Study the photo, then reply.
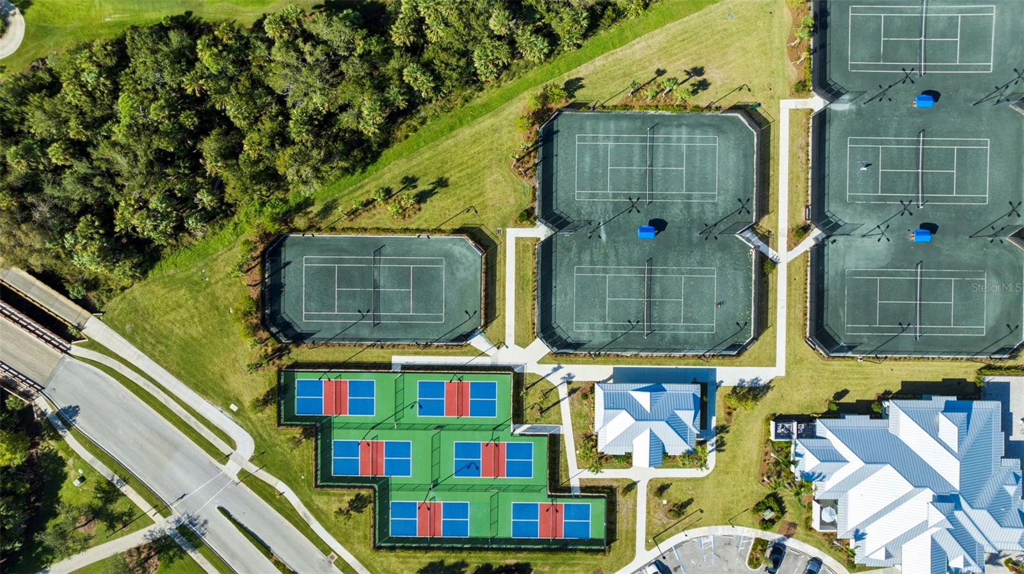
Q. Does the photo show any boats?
No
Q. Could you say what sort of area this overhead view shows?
sports ground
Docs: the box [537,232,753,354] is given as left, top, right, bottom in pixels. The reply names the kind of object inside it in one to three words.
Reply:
tennis court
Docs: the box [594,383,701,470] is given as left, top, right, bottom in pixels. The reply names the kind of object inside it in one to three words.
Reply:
building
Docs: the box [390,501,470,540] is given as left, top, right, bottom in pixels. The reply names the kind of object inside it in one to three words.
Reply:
sports court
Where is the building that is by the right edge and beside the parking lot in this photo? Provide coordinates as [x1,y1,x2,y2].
[791,395,1024,574]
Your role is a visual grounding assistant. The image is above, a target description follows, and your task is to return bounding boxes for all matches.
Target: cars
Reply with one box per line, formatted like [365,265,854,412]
[768,544,786,574]
[805,558,822,574]
[646,565,661,574]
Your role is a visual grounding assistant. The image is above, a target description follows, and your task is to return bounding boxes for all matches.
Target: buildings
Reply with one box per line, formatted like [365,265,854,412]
[594,383,701,470]
[791,395,1024,574]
